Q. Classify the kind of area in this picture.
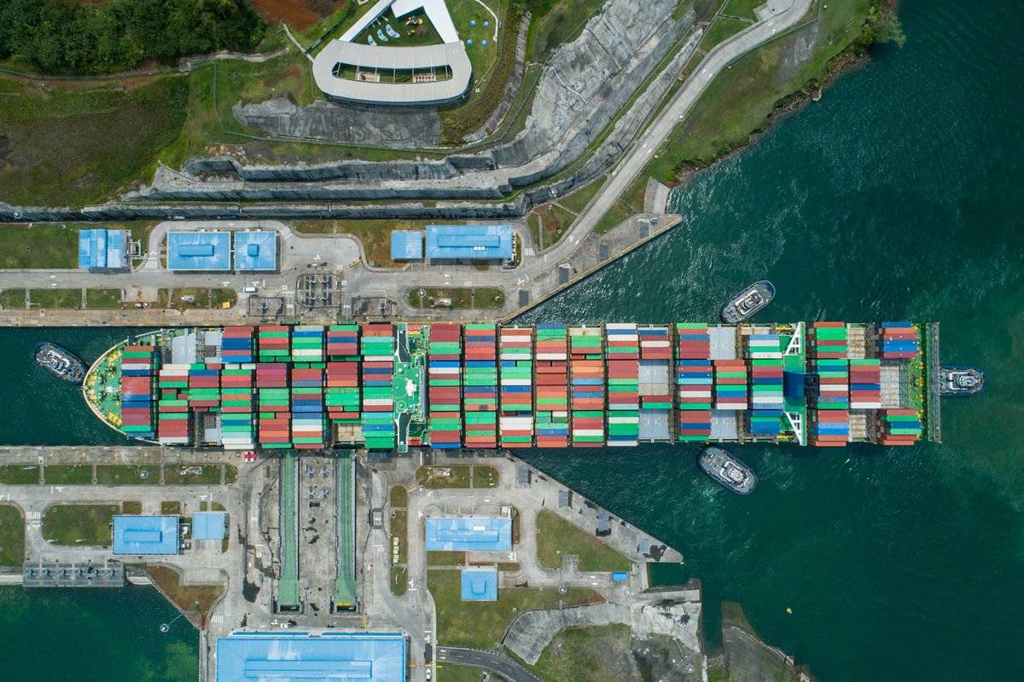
port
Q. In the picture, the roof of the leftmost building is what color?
blue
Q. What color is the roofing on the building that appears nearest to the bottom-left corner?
blue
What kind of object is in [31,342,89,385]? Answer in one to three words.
boat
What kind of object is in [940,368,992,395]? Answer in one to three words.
boat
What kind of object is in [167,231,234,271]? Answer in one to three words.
building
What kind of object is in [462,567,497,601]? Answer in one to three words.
building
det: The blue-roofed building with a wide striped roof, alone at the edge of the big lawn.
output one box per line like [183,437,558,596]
[79,230,124,268]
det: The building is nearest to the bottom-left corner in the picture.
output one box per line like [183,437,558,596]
[112,514,184,555]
